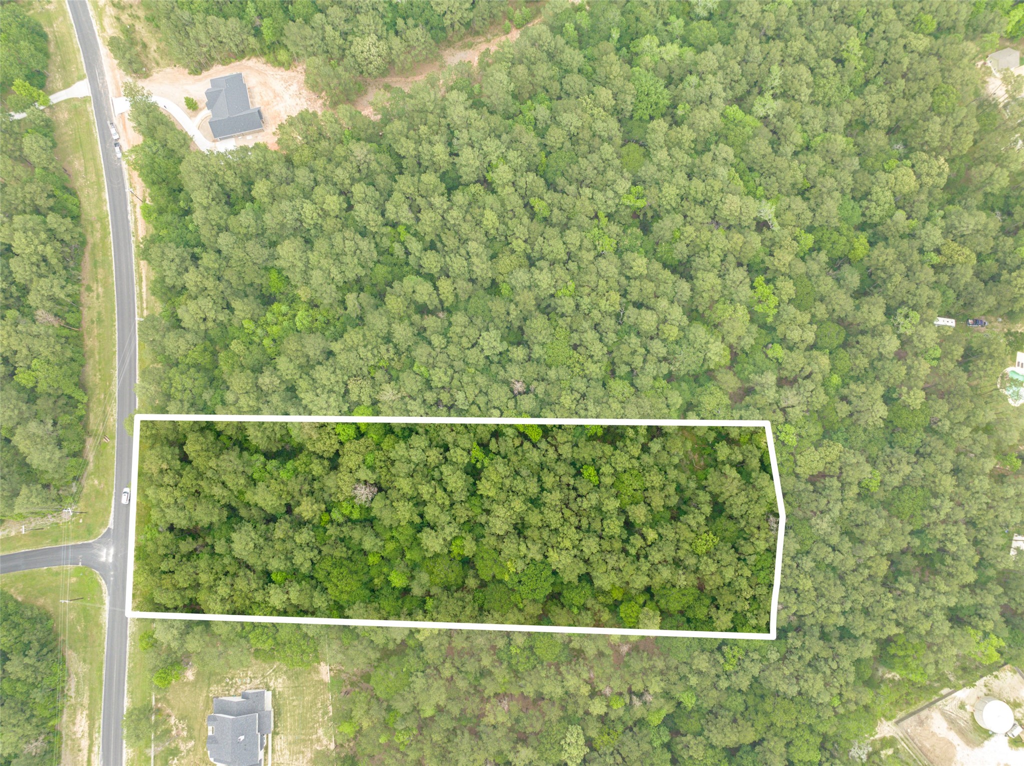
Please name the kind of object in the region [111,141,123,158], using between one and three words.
vehicle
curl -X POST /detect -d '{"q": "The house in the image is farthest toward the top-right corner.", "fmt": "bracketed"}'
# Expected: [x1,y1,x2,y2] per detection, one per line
[986,47,1020,74]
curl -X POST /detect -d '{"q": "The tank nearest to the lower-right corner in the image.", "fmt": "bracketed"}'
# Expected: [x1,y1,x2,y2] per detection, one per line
[973,696,1016,735]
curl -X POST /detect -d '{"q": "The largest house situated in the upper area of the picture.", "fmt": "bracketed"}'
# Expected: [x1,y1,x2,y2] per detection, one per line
[203,74,266,142]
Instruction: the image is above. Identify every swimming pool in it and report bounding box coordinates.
[997,365,1024,408]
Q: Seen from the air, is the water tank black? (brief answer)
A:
No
